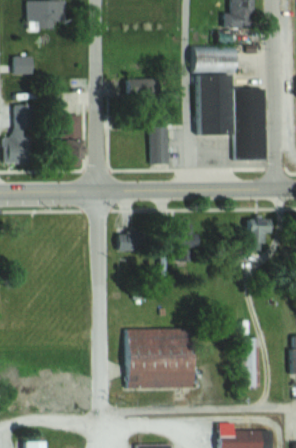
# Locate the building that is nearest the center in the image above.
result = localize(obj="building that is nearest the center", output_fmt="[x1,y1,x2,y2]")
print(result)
[117,234,140,252]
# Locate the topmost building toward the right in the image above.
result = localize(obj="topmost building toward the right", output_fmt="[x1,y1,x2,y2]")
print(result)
[222,0,255,28]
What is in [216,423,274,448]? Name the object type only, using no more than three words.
barn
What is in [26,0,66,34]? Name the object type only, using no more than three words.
house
